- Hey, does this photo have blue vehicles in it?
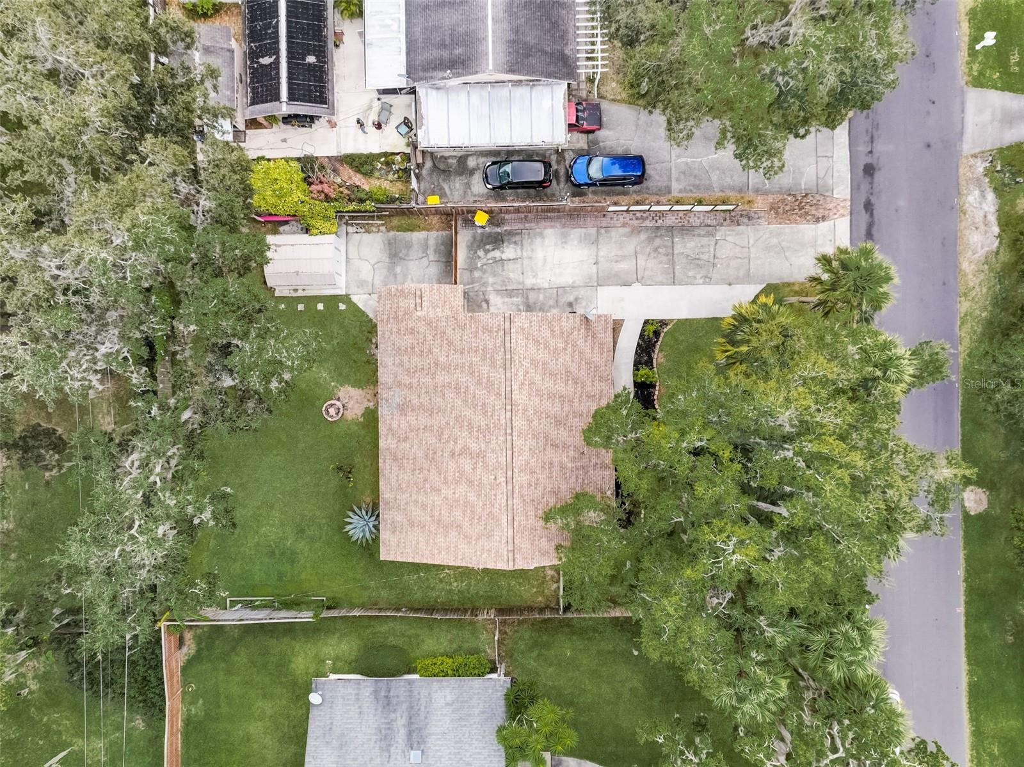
Yes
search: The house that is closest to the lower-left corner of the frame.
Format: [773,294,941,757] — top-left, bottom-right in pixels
[305,673,511,767]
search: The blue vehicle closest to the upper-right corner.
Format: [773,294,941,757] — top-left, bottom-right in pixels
[568,149,645,187]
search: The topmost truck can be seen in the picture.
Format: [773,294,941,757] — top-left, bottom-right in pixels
[566,97,602,134]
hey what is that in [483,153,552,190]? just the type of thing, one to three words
car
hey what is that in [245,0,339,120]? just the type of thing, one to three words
house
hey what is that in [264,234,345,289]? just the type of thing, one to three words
shed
